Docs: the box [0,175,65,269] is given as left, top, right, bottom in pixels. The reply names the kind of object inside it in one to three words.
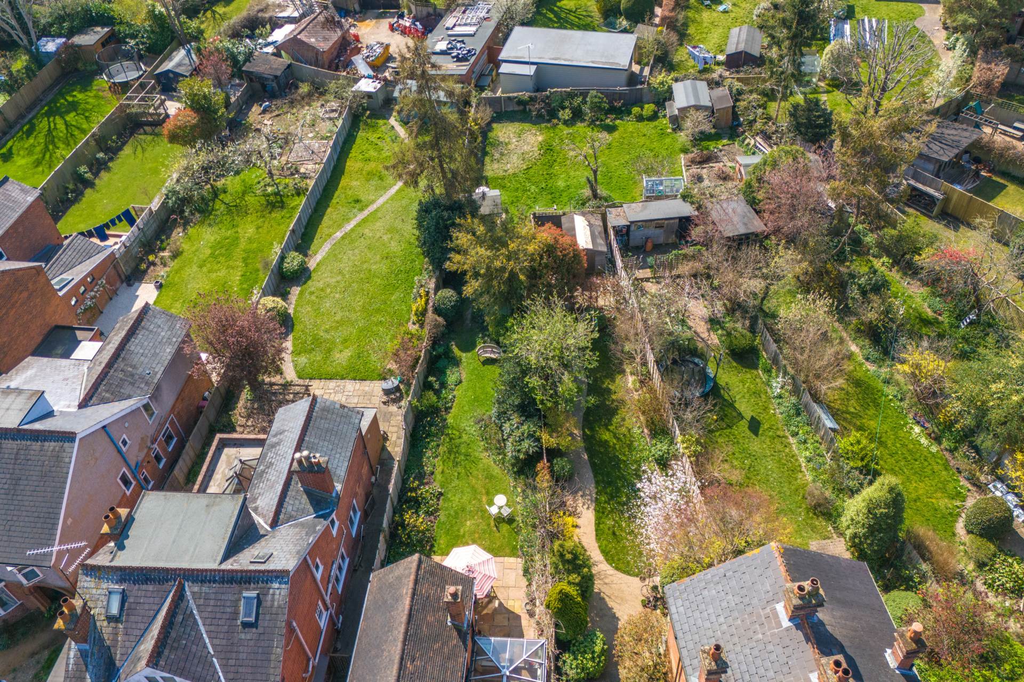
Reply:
house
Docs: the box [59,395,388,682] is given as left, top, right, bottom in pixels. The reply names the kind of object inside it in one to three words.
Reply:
house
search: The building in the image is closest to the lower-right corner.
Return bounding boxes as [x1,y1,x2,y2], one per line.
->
[662,541,929,682]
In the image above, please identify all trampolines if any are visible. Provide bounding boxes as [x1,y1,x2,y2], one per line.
[660,335,717,401]
[94,43,148,91]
